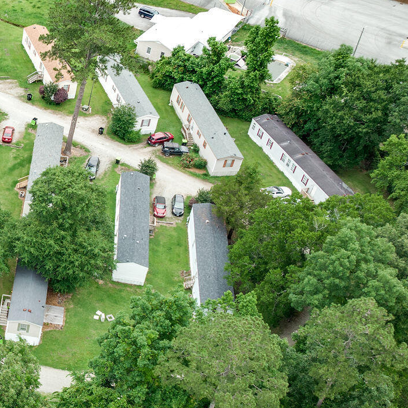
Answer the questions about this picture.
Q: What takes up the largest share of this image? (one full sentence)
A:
What you mostly see from above here is trees.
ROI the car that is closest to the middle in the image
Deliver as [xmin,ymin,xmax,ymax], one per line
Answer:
[172,192,186,212]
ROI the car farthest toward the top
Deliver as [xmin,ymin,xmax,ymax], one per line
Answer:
[136,3,162,20]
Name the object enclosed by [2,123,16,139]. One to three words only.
vehicle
